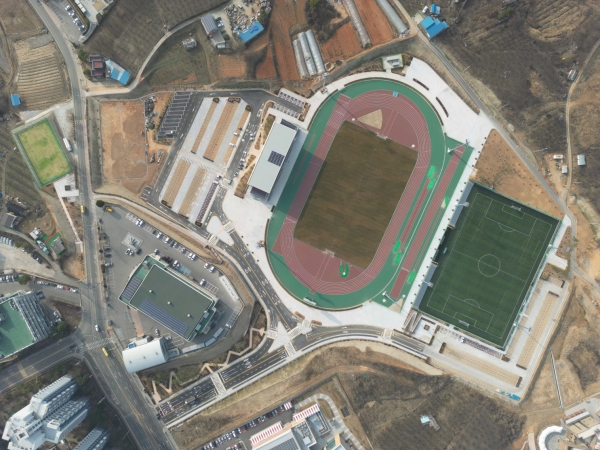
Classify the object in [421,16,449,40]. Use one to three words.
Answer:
house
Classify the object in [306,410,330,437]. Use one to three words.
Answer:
building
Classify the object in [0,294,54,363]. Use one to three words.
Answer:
building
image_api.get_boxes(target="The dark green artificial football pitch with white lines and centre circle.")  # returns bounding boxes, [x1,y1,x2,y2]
[419,183,561,349]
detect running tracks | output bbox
[265,80,475,313]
